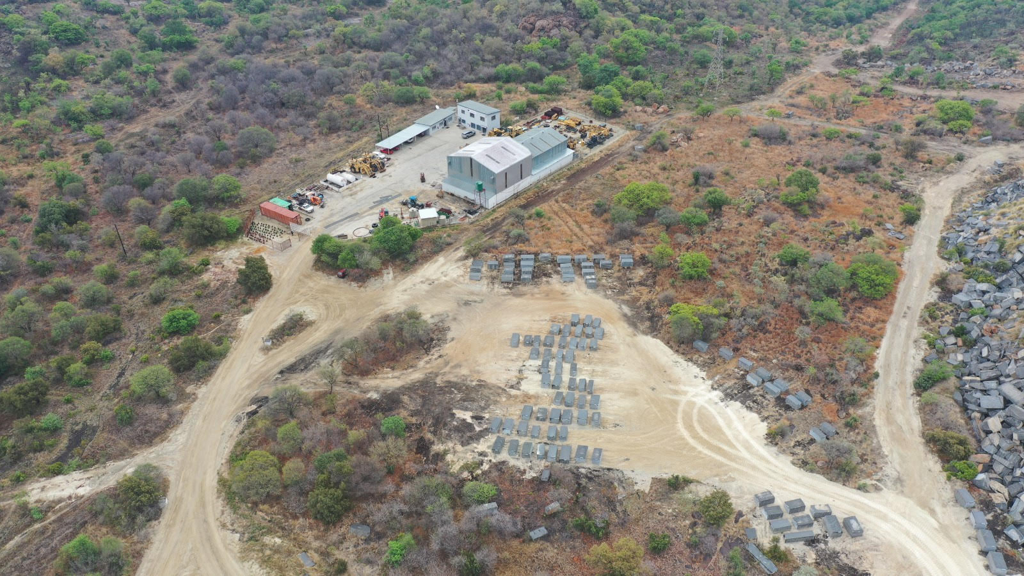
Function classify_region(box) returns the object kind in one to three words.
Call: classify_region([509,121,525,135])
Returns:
work vehicle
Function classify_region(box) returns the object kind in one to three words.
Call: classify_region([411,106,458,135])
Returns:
building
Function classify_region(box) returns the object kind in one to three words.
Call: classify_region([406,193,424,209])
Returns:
work vehicle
